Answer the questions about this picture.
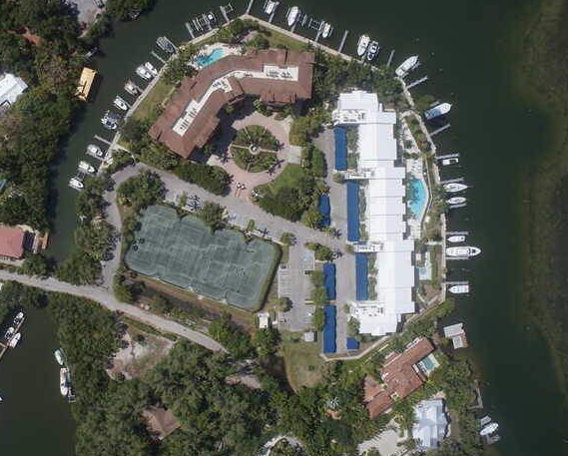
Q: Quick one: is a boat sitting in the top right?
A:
Yes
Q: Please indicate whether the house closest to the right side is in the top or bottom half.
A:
bottom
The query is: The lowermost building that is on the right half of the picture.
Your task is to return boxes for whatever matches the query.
[410,397,448,447]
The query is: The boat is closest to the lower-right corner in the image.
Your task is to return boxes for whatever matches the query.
[478,424,499,437]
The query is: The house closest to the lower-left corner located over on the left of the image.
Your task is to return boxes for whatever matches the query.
[142,405,181,440]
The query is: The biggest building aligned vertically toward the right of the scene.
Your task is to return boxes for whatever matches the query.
[330,90,417,336]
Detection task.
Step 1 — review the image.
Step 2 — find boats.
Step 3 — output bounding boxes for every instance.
[478,424,499,437]
[446,246,482,256]
[448,236,466,242]
[393,55,419,77]
[207,9,214,23]
[449,286,469,293]
[9,333,20,349]
[445,197,467,204]
[111,97,126,109]
[323,21,331,38]
[78,161,94,170]
[443,158,460,166]
[289,5,300,26]
[4,327,14,340]
[266,0,275,13]
[68,180,83,188]
[368,39,379,60]
[442,183,469,191]
[100,116,116,128]
[358,33,371,55]
[135,68,149,78]
[422,104,453,121]
[13,313,23,326]
[155,36,174,51]
[122,82,137,93]
[143,61,157,74]
[58,367,66,397]
[85,144,102,155]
